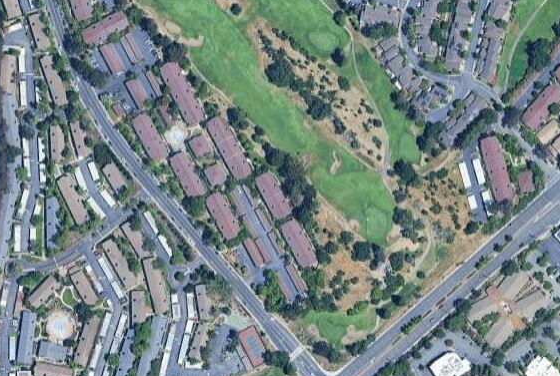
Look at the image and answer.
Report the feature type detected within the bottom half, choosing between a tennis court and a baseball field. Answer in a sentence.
It is a tennis court that can be seen within the bottom half.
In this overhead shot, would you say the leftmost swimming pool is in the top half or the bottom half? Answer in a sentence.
The leftmost swimming pool sits in the bottom half of the picture.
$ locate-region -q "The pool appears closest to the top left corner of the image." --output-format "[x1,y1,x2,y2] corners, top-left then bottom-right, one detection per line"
[162,123,188,148]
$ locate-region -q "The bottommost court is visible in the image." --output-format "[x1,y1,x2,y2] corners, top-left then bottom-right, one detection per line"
[237,326,263,365]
